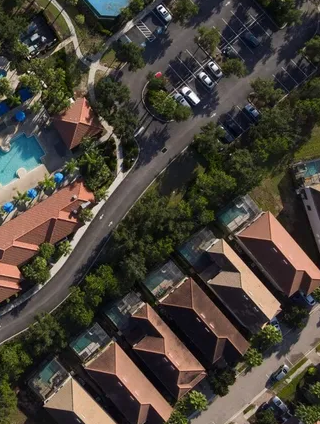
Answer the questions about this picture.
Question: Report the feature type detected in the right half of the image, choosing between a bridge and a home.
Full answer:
Looking in the right half of the image, you will find a home.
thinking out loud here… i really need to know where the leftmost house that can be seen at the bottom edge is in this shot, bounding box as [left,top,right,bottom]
[43,371,117,424]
